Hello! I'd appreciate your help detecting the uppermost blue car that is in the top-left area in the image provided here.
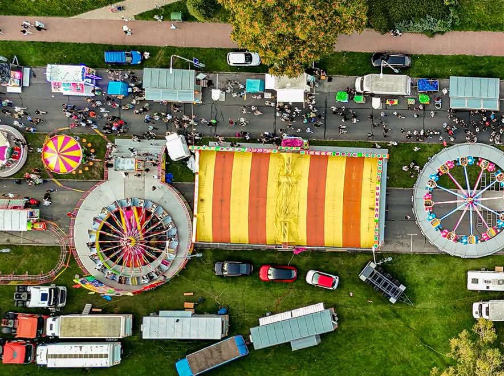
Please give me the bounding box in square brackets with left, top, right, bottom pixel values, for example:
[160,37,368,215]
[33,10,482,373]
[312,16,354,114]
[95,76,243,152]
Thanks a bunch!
[103,49,145,66]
